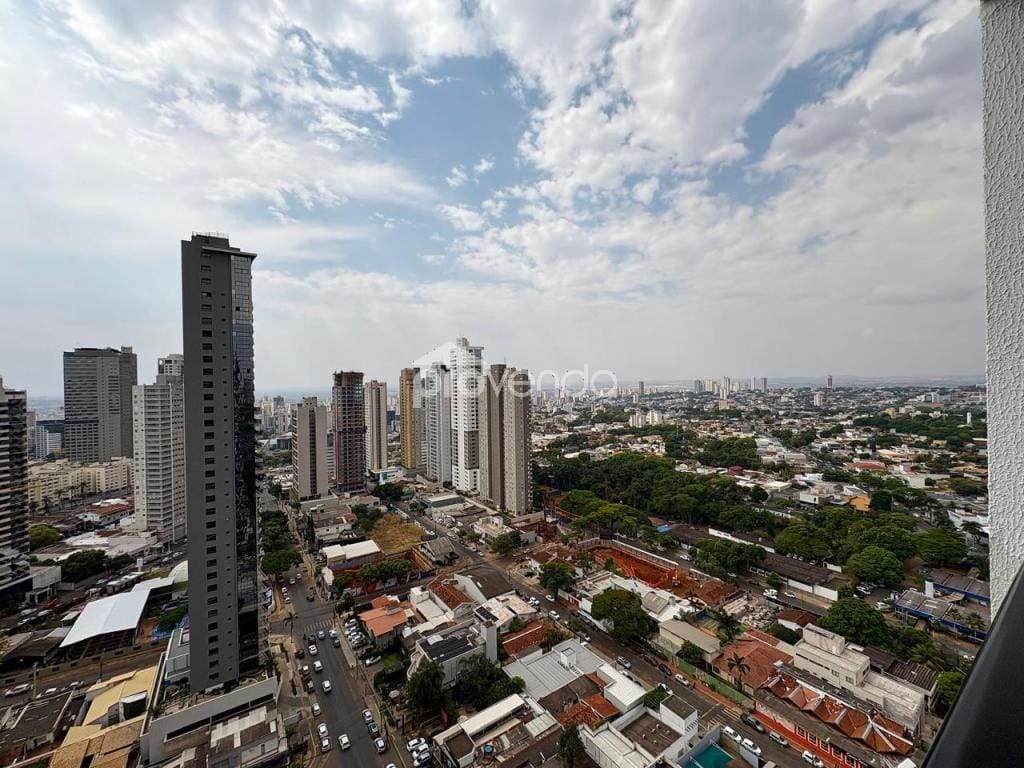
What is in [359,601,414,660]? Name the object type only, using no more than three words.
building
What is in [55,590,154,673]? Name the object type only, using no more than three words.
building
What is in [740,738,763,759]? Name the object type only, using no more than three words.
car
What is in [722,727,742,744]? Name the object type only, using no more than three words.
car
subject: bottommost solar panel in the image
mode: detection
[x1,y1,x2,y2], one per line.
[424,631,478,661]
